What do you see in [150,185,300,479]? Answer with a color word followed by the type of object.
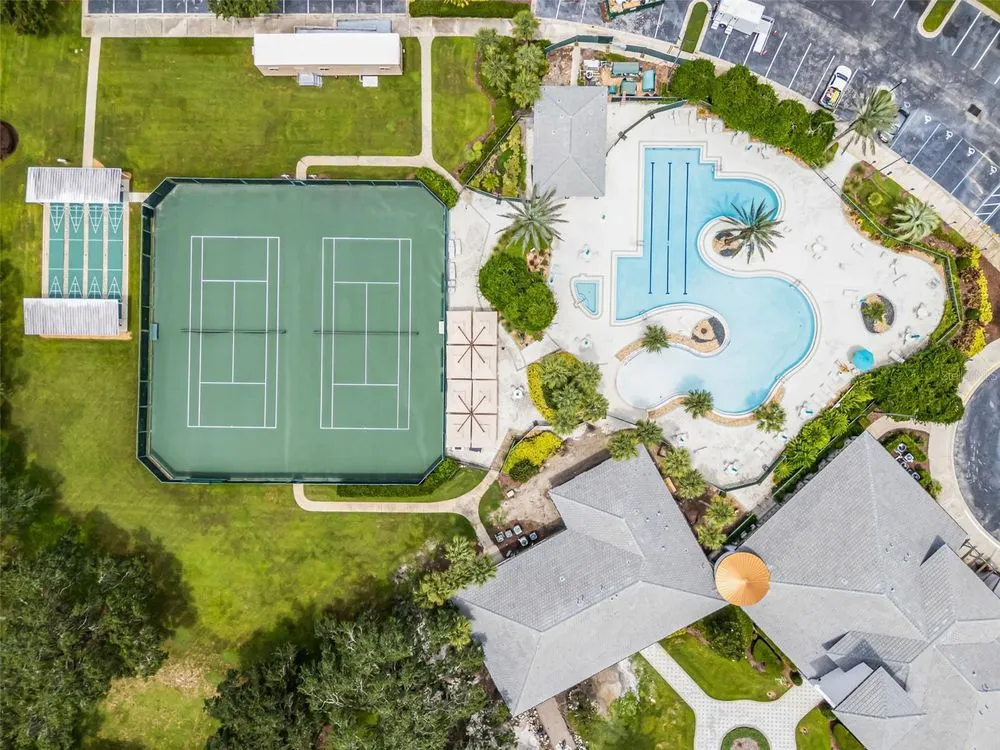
green tennis court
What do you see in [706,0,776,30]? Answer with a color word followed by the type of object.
white truck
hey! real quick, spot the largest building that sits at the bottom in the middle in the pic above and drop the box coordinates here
[453,444,725,717]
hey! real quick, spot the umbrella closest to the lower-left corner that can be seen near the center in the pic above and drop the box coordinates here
[445,378,498,448]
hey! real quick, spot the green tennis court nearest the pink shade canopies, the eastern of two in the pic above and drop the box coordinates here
[300,187,446,480]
